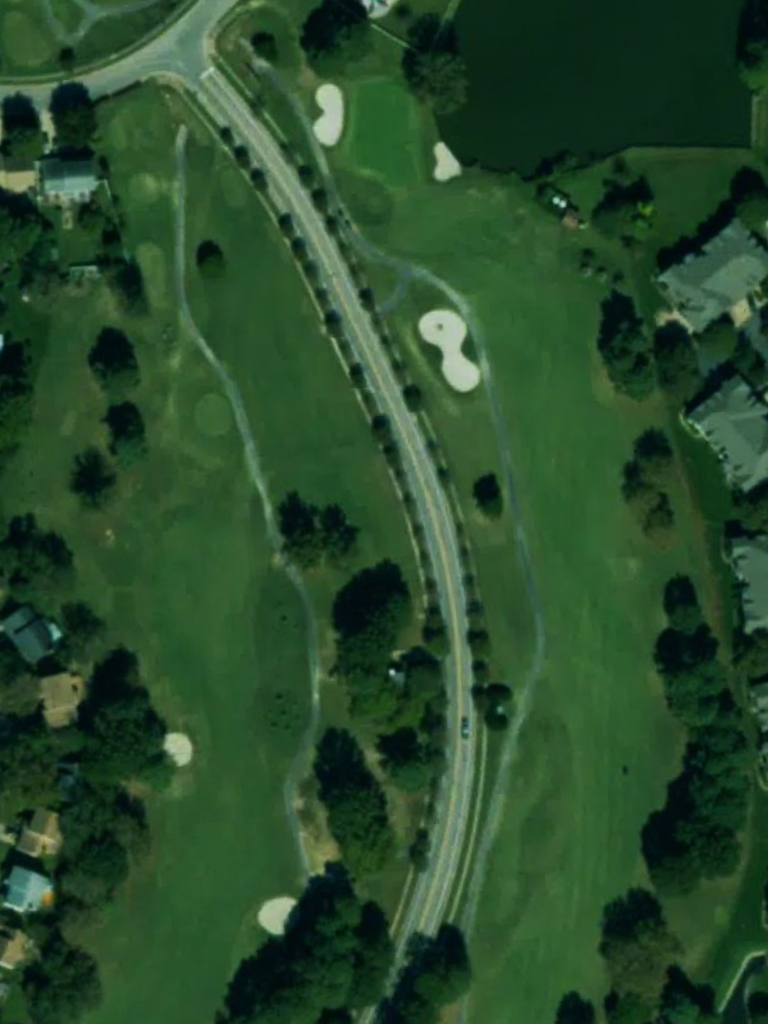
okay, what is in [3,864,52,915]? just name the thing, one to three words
house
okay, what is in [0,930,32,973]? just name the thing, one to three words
house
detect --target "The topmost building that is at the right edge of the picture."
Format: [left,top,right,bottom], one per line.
[660,219,768,327]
